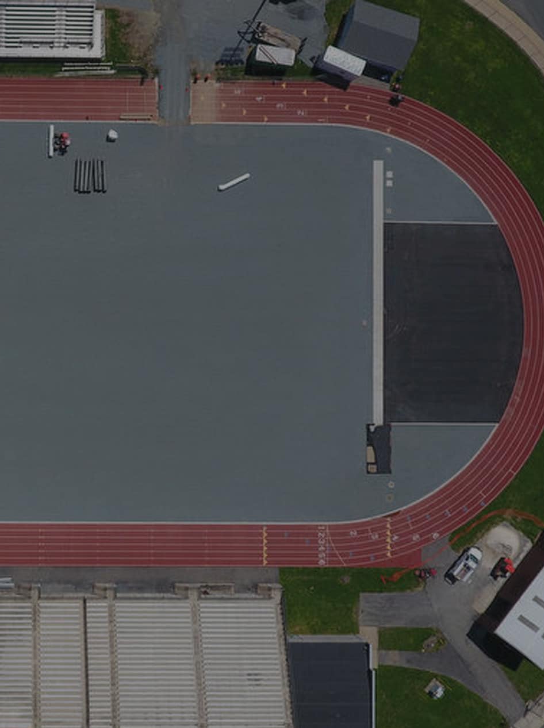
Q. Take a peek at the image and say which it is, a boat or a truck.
truck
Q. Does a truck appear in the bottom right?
Yes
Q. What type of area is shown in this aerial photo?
sports ground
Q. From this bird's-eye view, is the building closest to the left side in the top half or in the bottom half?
bottom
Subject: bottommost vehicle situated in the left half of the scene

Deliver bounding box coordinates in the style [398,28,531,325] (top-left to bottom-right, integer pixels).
[53,134,71,149]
